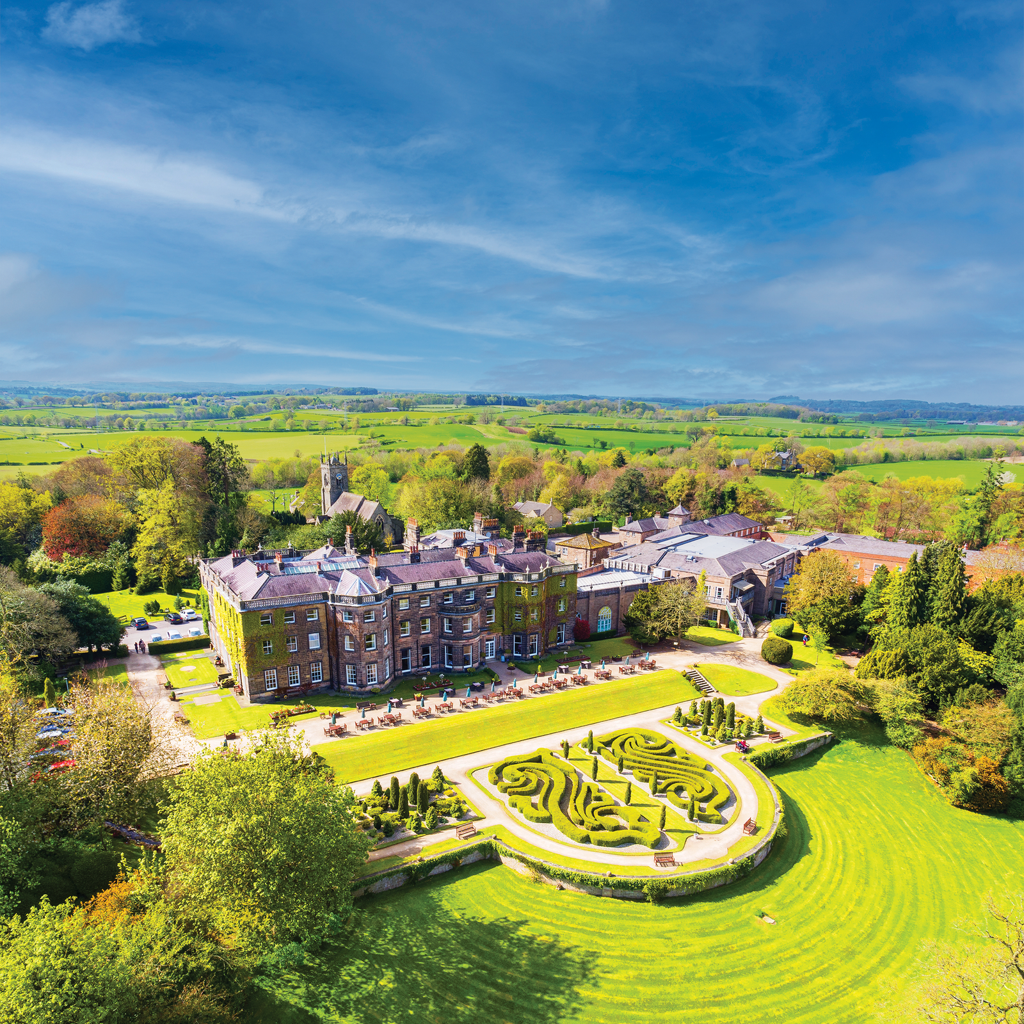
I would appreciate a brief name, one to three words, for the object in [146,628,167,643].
car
